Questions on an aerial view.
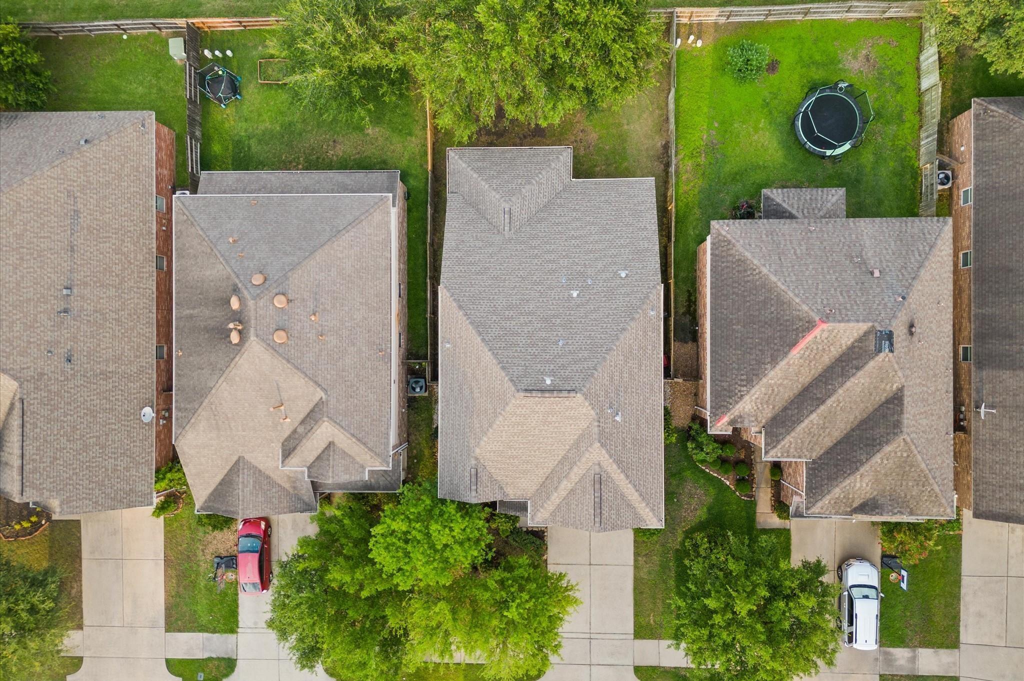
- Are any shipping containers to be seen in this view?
No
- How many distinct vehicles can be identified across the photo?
2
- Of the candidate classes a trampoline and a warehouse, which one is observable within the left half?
trampoline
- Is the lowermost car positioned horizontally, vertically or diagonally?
vertically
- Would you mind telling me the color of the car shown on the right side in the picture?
white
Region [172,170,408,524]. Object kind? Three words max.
house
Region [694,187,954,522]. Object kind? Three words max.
house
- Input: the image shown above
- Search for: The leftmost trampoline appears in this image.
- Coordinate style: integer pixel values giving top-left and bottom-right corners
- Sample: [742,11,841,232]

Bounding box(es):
[197,62,241,107]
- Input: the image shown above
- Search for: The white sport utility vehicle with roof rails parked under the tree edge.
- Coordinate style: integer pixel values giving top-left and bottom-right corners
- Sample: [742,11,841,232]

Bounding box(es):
[836,557,882,651]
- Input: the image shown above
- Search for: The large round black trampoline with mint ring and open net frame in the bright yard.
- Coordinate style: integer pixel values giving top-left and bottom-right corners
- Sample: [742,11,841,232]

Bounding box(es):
[788,77,877,166]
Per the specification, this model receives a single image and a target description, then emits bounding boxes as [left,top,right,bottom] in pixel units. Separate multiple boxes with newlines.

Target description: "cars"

[836,557,882,651]
[234,520,273,593]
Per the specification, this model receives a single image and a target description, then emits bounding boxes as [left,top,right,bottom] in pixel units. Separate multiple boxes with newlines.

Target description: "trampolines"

[788,77,877,166]
[197,62,241,107]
